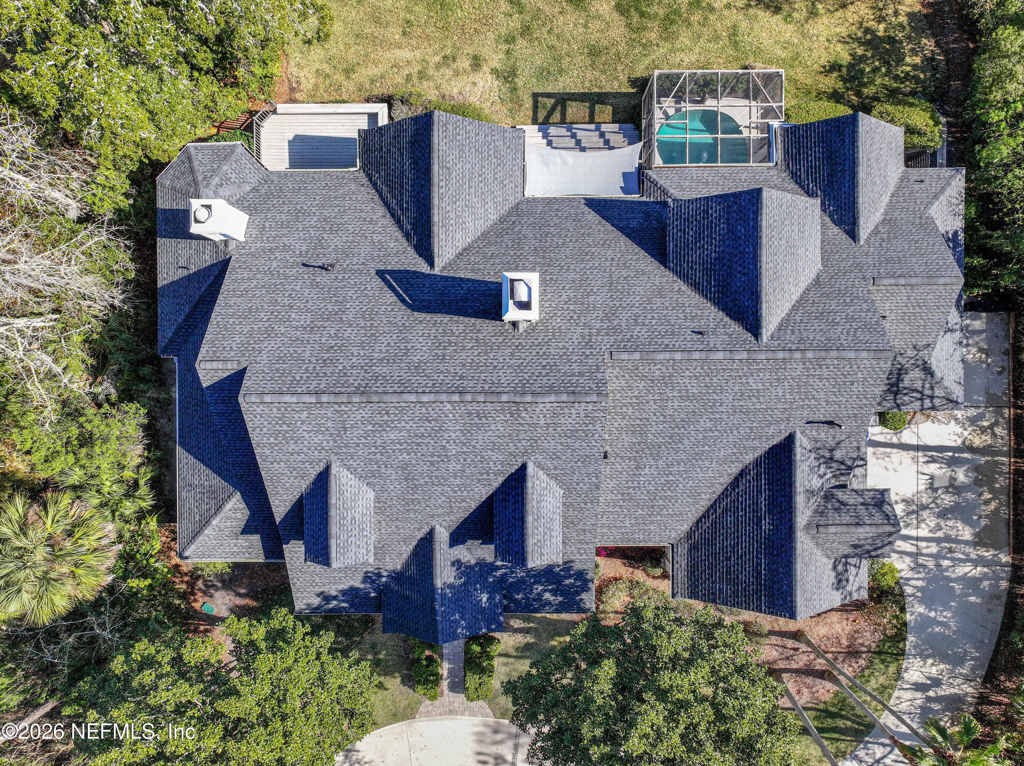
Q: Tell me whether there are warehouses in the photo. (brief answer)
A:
No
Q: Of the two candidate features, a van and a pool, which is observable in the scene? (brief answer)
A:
pool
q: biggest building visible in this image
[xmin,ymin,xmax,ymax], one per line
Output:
[154,111,967,645]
